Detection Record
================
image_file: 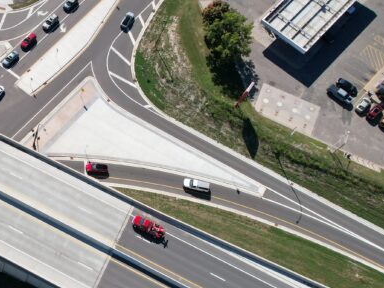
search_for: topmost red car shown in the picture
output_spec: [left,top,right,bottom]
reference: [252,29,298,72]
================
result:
[21,32,38,49]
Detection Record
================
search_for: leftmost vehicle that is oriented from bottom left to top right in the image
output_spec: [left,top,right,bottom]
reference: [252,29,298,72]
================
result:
[2,51,19,67]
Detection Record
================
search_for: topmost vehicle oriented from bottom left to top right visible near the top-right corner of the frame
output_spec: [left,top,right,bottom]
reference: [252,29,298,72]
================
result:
[342,3,359,18]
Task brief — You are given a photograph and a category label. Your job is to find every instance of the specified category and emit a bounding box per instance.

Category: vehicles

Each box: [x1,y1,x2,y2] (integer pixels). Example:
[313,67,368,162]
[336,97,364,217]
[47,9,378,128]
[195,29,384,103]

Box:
[62,0,79,11]
[120,12,135,30]
[354,99,371,114]
[378,119,384,129]
[366,105,384,121]
[183,180,212,193]
[342,3,359,18]
[131,214,173,240]
[327,85,351,104]
[2,51,19,67]
[336,79,358,95]
[42,15,60,31]
[85,164,108,175]
[21,32,38,49]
